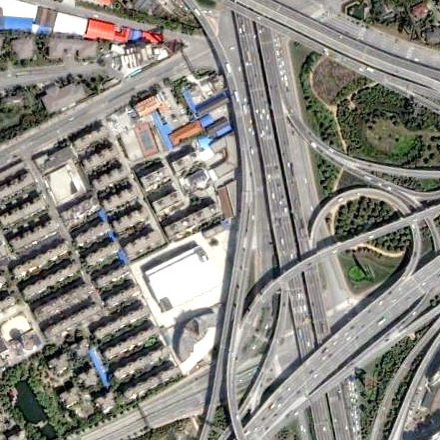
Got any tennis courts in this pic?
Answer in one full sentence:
No, I find no tennis court anywhere in the image.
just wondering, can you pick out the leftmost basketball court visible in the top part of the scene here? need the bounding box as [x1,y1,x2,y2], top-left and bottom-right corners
[134,122,159,157]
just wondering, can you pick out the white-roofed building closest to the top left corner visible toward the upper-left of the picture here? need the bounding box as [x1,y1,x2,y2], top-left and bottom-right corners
[0,0,38,20]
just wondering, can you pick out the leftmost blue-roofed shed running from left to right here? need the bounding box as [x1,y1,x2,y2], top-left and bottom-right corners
[0,17,35,33]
